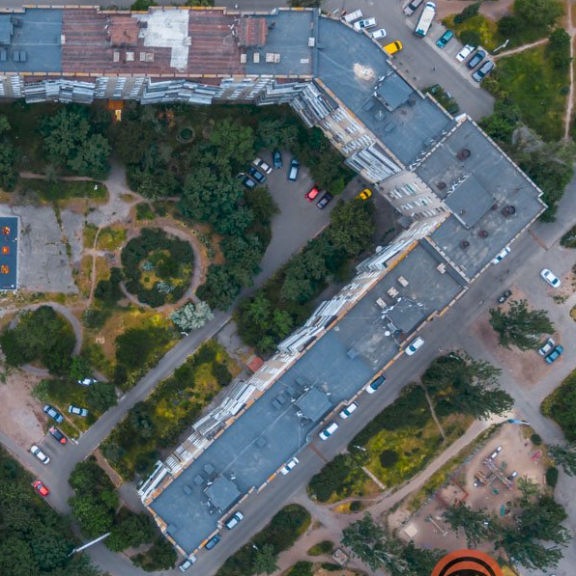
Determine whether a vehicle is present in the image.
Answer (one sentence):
Yes, I can see a vehicle in this picture.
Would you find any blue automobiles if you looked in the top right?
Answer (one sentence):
Yes, a blue automobile appears in the top right.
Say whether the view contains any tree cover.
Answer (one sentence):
Yes, tree cover shows up in the scene.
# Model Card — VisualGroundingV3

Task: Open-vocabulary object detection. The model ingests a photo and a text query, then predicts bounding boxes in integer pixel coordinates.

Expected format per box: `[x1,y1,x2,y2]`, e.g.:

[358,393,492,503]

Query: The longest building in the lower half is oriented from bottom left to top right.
[136,215,467,557]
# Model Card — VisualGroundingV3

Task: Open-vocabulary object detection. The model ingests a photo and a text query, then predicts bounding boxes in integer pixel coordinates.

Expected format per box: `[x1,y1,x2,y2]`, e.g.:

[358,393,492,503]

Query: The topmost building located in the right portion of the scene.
[292,10,455,182]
